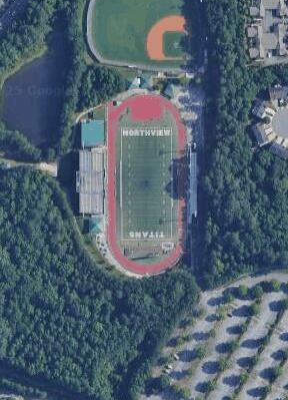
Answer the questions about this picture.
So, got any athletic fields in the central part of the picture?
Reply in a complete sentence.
Yes, you'll find an athletic field in the central part of the picture.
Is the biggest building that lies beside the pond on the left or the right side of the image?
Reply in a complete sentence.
The biggest building that lies beside the pond appears in the left half of the scene.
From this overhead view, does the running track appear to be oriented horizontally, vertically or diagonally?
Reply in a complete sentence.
The running track has been laid out vertically relative to the frame.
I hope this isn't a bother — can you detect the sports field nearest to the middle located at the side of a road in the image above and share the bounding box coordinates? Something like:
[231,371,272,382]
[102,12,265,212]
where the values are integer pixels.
[116,109,179,267]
